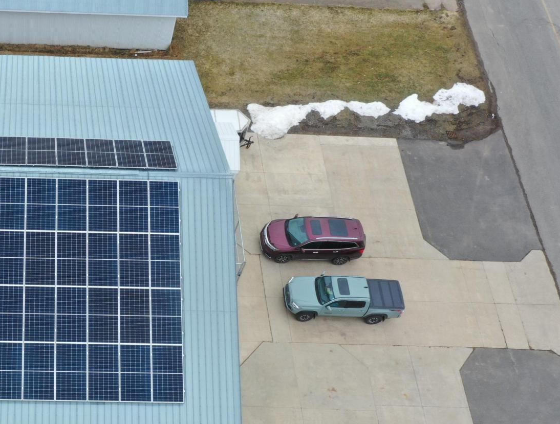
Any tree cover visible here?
No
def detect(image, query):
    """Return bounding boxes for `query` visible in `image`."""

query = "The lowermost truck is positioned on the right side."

[283,267,404,323]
